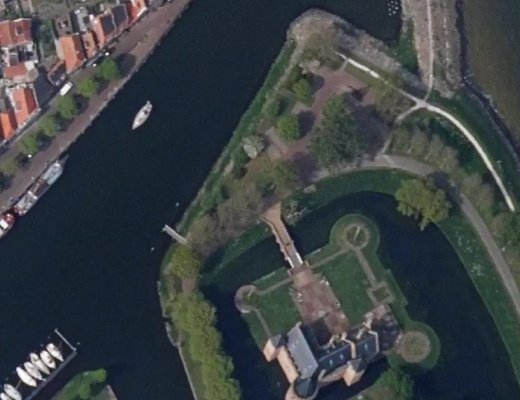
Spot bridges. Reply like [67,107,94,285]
[269,215,303,269]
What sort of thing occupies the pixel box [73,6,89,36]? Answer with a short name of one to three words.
house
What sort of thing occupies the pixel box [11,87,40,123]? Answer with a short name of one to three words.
house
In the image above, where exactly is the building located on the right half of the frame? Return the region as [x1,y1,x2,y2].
[264,322,378,400]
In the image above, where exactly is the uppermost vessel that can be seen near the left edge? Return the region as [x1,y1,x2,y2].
[12,155,69,216]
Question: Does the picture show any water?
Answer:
Yes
